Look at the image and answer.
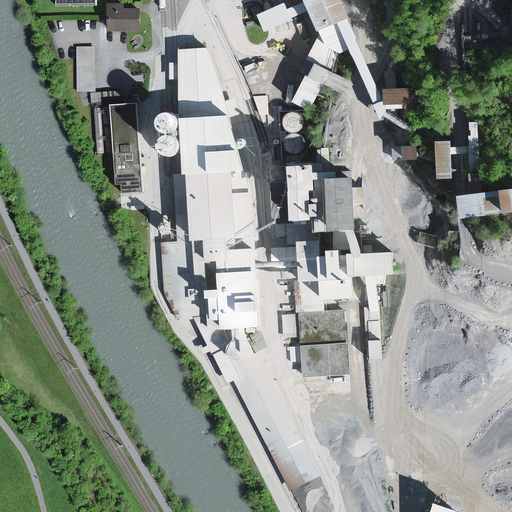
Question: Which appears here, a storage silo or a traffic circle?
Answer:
storage silo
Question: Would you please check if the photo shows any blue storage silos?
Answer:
No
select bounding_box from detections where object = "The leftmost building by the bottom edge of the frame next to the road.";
[230,364,320,491]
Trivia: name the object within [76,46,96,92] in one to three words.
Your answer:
building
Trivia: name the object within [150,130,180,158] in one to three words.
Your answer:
silo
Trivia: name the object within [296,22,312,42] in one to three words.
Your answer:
vehicle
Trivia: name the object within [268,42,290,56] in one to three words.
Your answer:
work vehicle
